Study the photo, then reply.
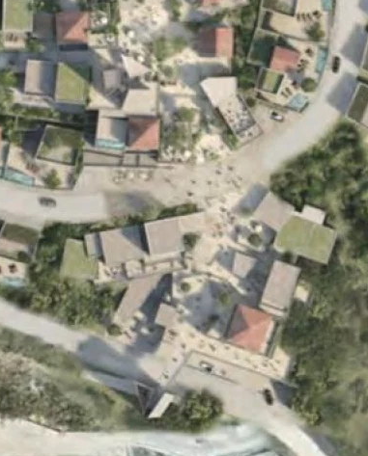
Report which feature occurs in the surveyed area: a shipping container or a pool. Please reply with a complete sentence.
The one in the frame is a pool.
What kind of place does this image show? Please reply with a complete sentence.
It's a residential area.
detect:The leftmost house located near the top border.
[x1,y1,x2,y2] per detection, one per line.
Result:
[2,0,33,32]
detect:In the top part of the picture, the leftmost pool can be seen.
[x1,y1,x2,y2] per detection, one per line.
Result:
[0,165,34,187]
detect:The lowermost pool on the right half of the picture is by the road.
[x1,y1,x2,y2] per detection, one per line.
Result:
[286,91,313,109]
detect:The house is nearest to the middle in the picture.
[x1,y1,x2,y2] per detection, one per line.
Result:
[145,218,183,257]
